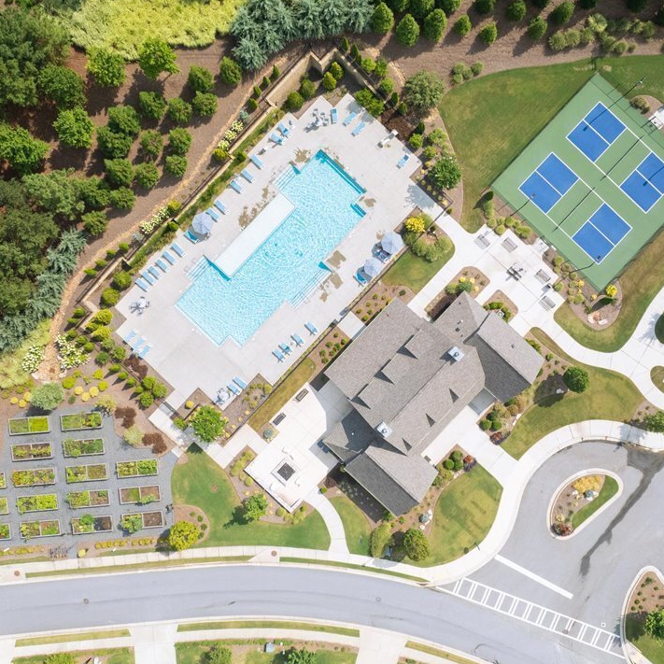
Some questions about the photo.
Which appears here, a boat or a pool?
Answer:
pool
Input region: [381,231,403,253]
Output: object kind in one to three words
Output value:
umbrella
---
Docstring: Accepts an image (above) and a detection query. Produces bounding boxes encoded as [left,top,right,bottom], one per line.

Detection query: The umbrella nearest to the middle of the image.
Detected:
[363,254,386,277]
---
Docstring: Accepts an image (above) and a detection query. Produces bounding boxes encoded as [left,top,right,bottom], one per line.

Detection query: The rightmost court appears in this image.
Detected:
[621,151,664,210]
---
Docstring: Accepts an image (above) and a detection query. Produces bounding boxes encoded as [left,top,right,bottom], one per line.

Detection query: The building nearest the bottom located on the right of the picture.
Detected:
[322,291,545,516]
